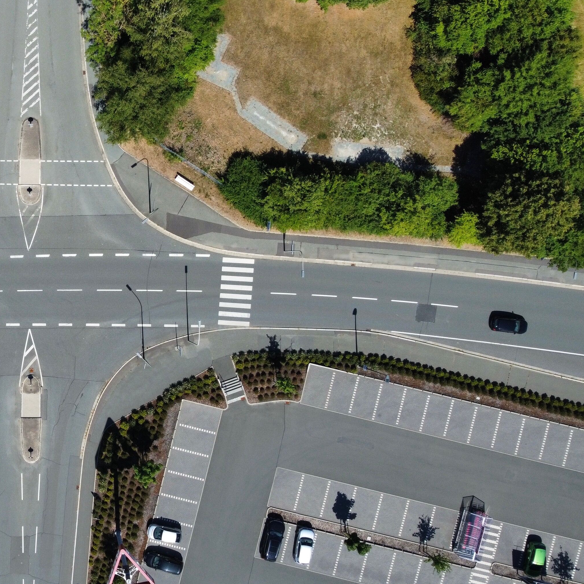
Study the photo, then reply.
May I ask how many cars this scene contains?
six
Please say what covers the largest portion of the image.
paved ground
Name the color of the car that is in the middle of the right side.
black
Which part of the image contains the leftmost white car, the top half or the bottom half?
bottom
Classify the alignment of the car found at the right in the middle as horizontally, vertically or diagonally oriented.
horizontally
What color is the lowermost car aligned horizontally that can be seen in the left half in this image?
black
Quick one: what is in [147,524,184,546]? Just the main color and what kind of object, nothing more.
white car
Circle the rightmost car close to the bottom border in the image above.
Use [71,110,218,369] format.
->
[519,541,545,576]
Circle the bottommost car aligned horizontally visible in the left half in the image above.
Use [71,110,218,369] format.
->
[143,553,185,576]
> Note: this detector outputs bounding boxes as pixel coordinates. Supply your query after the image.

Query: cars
[519,541,545,576]
[262,519,286,562]
[143,553,185,576]
[493,317,532,338]
[147,524,184,546]
[294,524,317,565]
